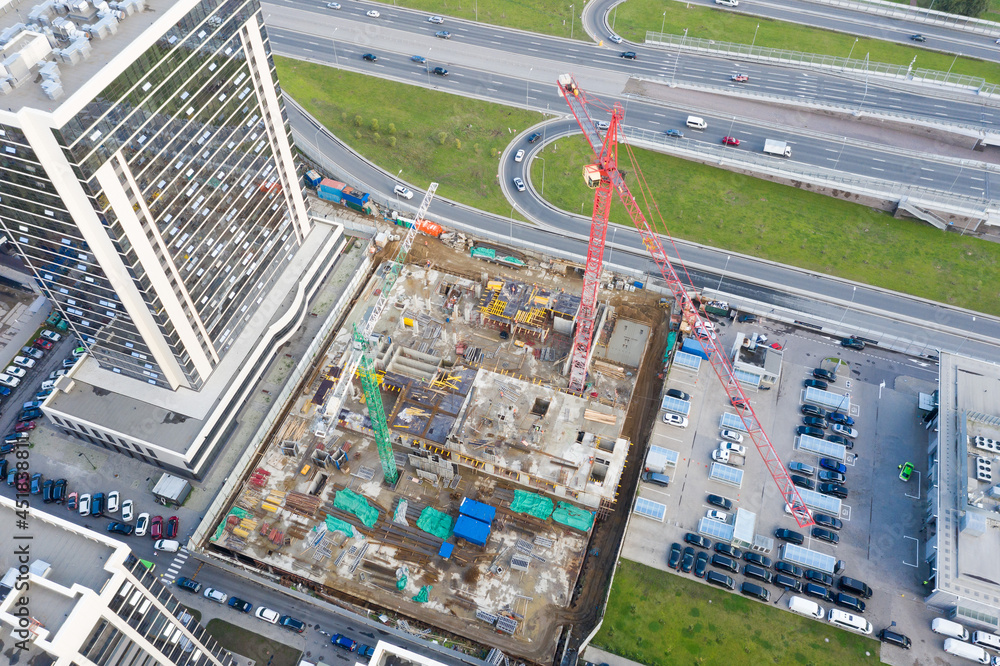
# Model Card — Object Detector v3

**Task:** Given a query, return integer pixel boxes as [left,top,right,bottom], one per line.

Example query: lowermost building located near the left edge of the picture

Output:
[0,494,214,666]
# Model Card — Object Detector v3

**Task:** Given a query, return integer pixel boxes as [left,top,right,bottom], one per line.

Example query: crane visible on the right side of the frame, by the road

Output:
[553,82,815,530]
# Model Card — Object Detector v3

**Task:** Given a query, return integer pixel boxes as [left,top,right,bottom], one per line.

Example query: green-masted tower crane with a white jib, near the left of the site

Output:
[318,187,438,485]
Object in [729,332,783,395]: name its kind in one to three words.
building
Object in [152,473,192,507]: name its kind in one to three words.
shed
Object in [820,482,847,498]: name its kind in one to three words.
car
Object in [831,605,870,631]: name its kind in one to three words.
vehicle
